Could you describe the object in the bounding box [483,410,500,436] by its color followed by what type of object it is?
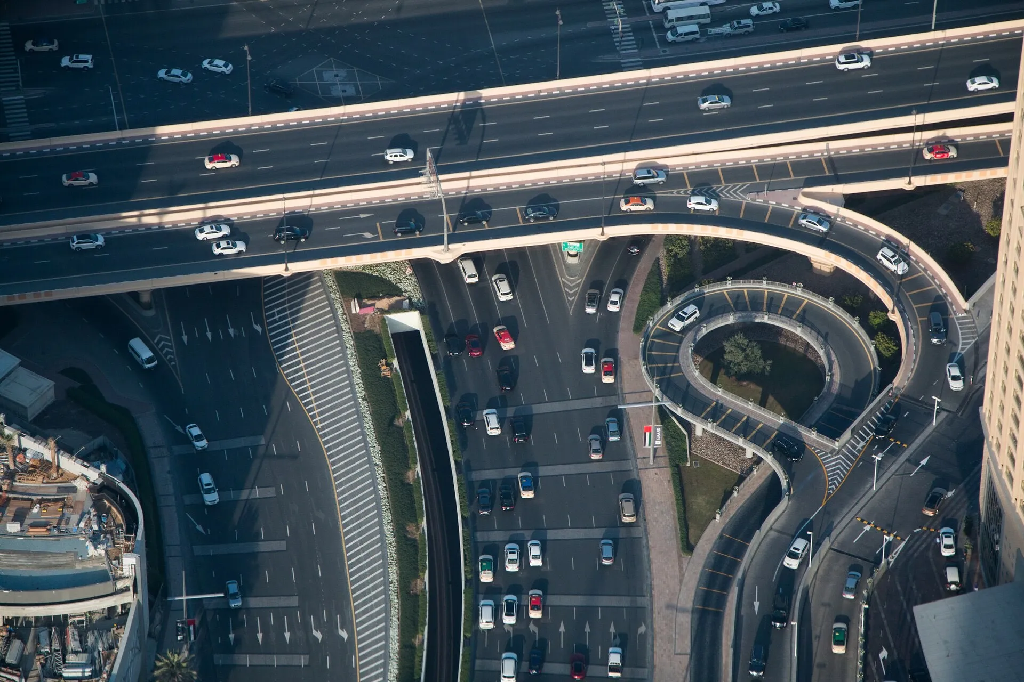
white car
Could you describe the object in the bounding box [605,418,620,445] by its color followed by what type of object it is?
blue car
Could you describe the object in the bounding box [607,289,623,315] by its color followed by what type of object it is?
white car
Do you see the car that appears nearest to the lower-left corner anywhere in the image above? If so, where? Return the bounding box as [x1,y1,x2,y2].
[225,580,242,610]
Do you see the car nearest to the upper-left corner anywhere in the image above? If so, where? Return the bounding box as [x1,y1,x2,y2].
[25,38,58,53]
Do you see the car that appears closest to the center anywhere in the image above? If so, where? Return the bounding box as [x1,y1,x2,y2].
[496,326,512,353]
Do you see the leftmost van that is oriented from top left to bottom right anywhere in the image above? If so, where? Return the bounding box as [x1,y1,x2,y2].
[128,337,157,370]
